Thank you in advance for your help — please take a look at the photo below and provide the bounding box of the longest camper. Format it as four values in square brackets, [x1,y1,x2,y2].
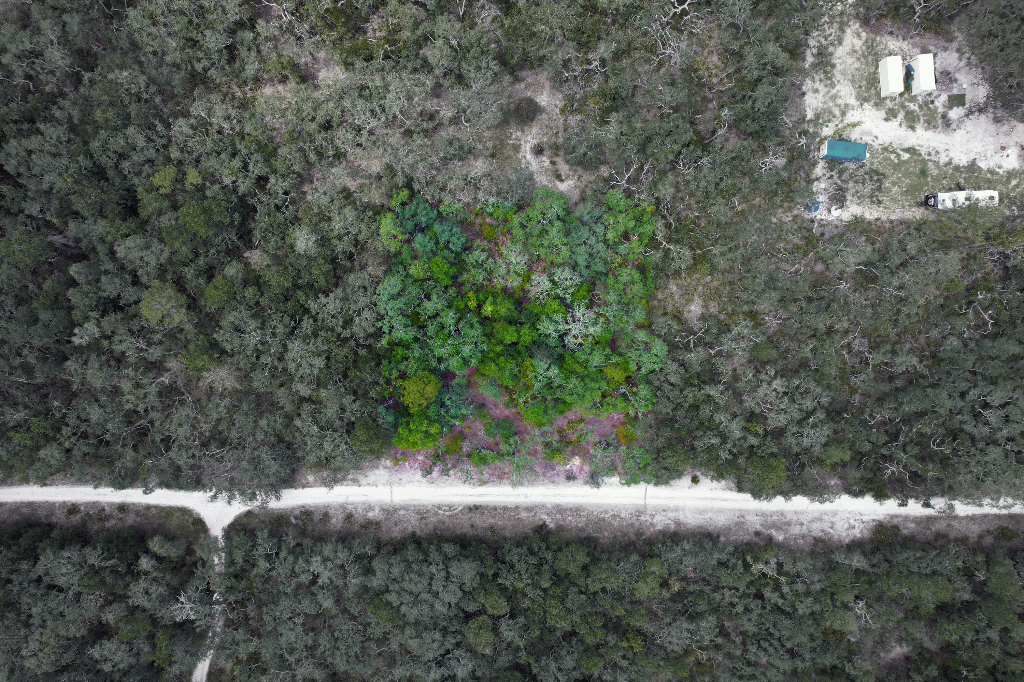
[910,190,998,211]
